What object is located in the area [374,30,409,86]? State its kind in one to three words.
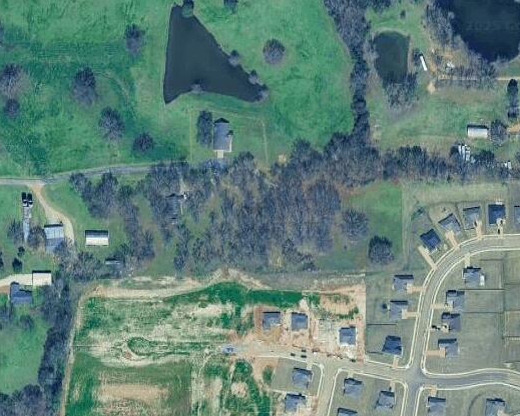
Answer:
pond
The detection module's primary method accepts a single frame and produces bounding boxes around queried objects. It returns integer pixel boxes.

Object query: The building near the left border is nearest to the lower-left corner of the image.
[12,284,32,303]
